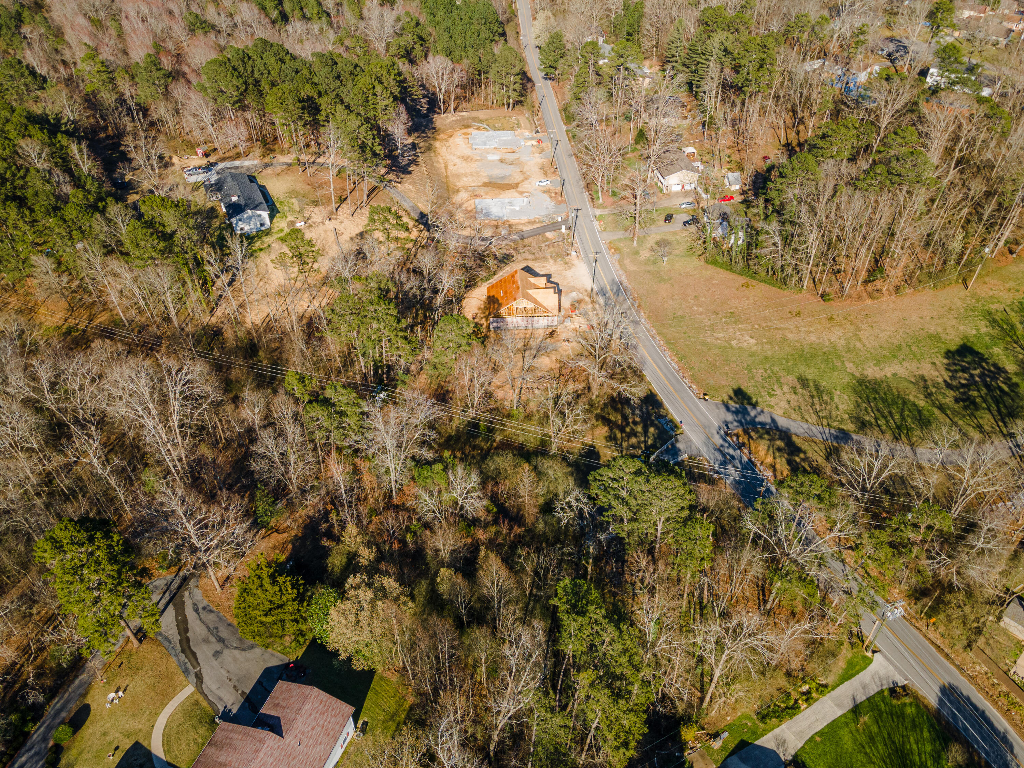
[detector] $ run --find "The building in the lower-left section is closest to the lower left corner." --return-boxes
[190,681,356,768]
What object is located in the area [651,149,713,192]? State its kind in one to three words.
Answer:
house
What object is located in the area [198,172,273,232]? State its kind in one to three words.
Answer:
house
